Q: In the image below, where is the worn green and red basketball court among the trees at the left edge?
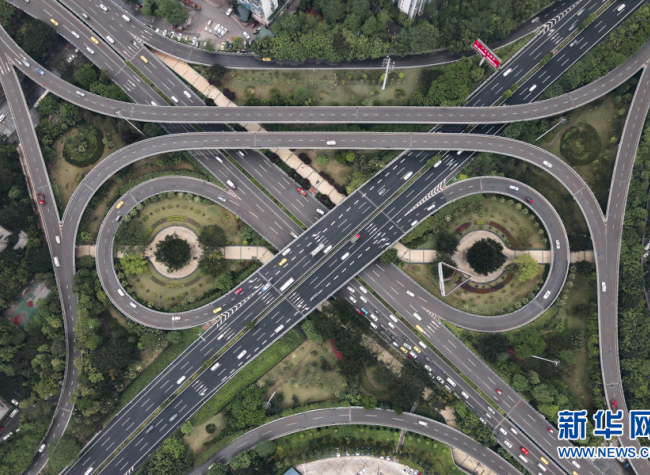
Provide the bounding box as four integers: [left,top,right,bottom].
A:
[3,280,48,328]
